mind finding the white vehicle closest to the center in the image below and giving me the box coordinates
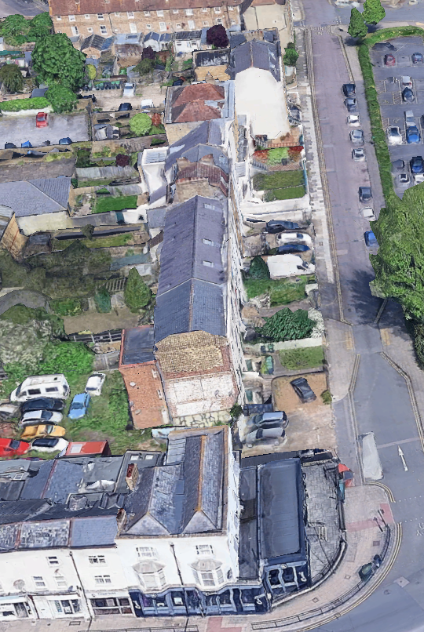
[265,255,307,275]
